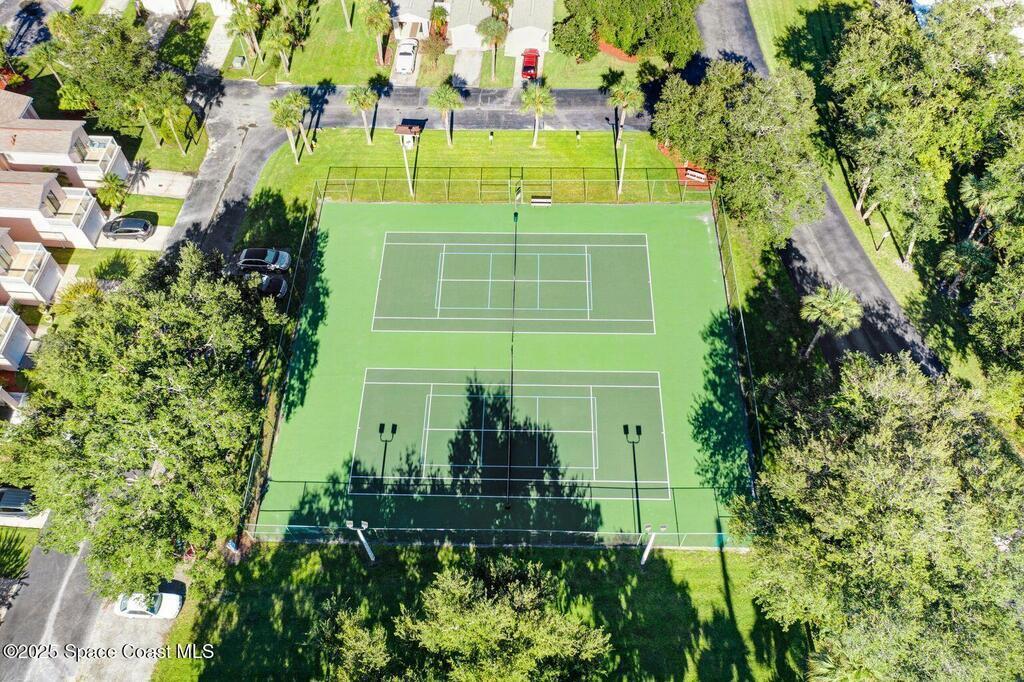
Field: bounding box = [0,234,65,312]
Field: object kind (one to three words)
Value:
house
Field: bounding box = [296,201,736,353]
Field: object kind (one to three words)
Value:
tennis court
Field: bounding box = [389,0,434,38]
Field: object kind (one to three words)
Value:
house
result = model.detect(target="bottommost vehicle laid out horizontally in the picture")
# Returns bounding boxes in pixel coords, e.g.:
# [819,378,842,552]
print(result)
[111,590,183,622]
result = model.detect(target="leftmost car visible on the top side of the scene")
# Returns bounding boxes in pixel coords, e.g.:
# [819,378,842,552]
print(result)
[101,218,156,244]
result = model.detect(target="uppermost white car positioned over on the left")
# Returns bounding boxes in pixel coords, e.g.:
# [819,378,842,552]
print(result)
[393,41,416,74]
